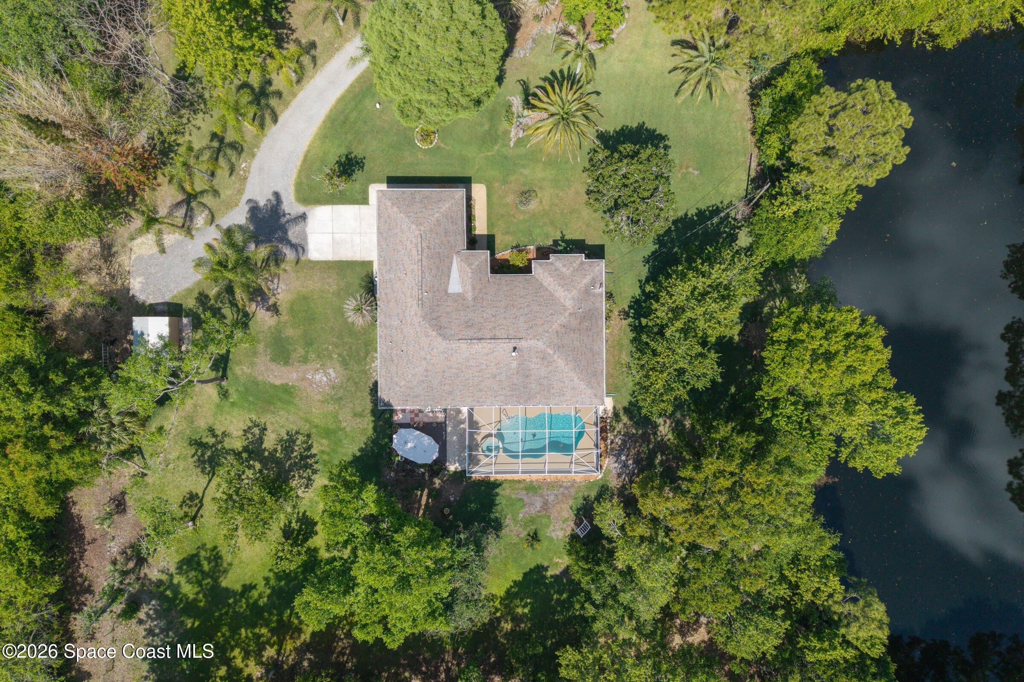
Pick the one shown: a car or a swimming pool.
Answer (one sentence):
This aerial view contains a swimming pool.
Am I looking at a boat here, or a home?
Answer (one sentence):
Looking from above, you can make out a home.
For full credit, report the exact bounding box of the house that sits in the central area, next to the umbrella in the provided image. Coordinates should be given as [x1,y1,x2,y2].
[375,187,607,409]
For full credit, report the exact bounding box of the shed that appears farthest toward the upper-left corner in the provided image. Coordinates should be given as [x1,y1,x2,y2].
[132,316,179,355]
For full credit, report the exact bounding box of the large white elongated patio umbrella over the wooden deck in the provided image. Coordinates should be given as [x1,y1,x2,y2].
[393,429,439,464]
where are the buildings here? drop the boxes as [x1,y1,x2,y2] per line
[132,316,179,355]
[375,187,607,409]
